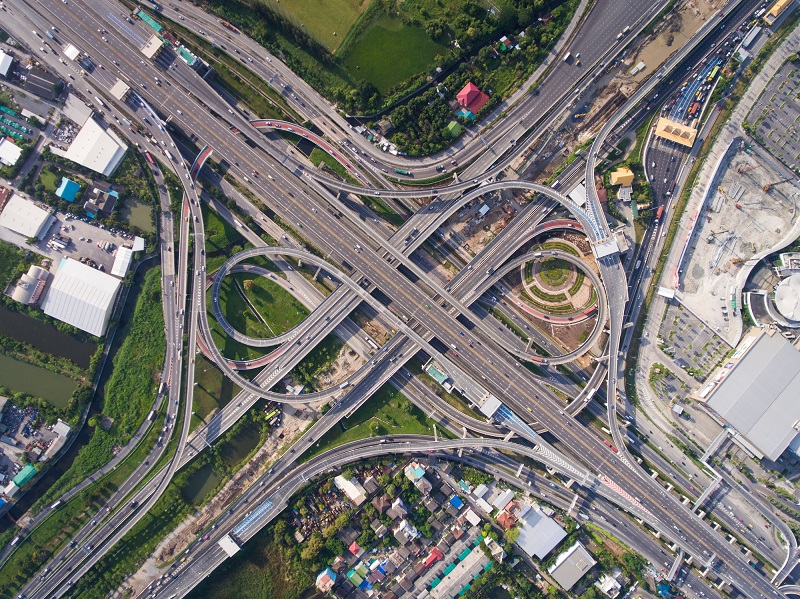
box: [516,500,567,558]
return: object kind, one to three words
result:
building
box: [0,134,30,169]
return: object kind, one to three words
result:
building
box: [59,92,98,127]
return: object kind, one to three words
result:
shed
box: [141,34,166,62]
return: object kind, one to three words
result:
toll station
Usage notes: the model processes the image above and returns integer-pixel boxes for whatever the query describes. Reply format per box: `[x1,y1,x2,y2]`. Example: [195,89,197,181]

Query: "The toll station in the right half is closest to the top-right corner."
[649,117,698,147]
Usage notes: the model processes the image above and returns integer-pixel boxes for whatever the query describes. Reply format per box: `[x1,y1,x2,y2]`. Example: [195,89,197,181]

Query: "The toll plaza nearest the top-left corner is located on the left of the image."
[62,43,82,62]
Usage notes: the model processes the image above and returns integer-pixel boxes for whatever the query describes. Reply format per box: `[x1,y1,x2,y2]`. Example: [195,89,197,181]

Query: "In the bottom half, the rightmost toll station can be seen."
[475,390,503,419]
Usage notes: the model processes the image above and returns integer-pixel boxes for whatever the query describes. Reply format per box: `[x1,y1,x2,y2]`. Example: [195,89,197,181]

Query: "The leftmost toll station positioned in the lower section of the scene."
[218,529,245,557]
